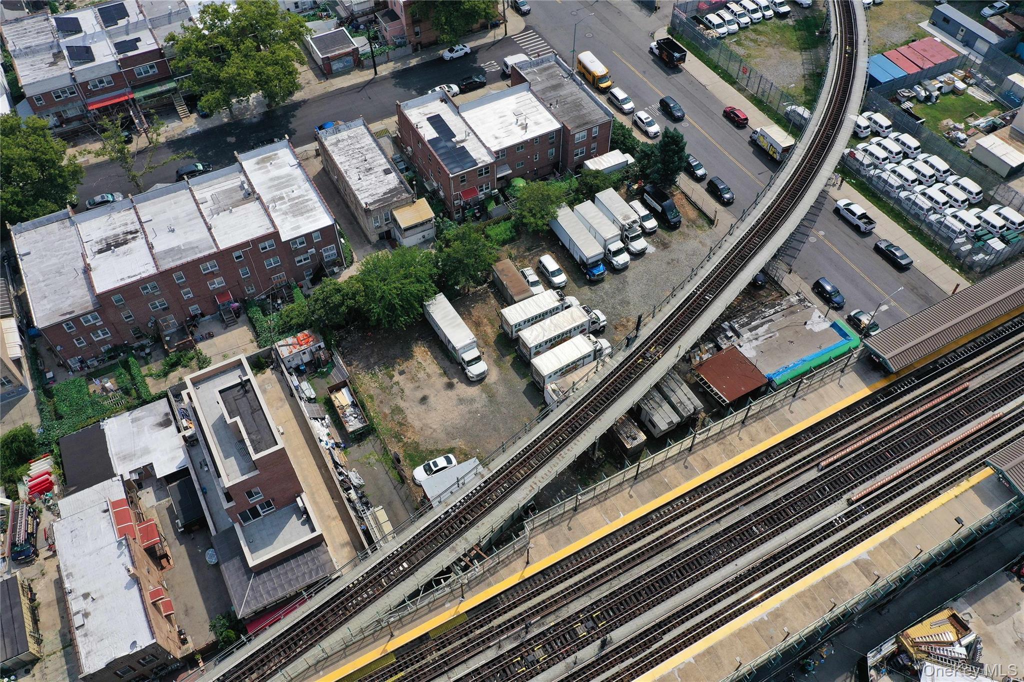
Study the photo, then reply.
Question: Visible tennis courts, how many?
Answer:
0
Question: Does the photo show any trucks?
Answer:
Yes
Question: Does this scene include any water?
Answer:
No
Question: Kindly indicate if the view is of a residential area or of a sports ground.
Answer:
residential area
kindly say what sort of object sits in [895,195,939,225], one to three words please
van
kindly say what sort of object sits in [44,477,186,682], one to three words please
house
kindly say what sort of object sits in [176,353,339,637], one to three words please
building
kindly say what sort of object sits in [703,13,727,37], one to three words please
car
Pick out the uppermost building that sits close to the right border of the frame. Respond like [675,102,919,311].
[928,3,1003,58]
